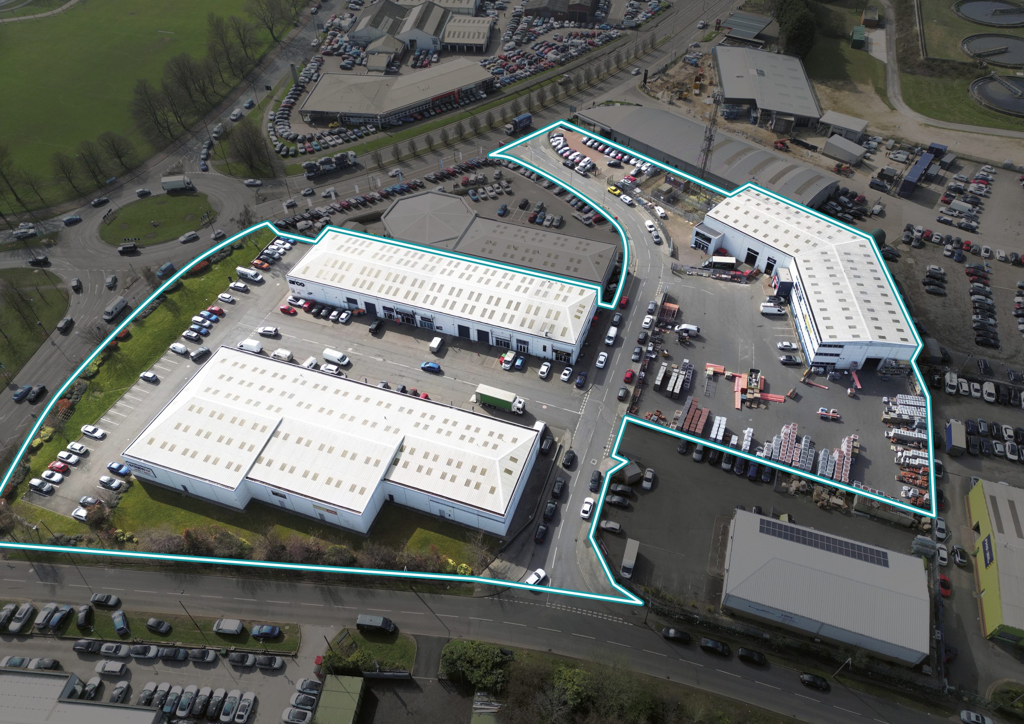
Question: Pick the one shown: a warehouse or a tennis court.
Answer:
warehouse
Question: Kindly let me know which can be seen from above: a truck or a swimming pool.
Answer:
truck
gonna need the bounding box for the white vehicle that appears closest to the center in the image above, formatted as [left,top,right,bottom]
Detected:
[503,350,515,368]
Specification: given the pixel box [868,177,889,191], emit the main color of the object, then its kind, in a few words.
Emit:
black vehicle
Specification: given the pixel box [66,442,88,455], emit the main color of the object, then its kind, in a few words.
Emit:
white vehicle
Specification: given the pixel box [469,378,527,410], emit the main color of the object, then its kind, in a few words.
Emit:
white truck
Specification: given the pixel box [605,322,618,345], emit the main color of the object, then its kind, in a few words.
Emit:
white vehicle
